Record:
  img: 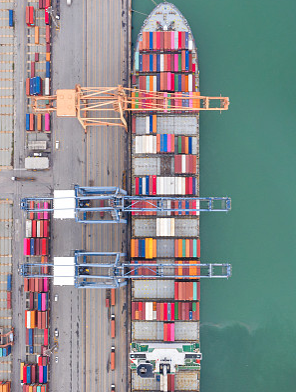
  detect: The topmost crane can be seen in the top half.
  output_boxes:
[19,87,234,136]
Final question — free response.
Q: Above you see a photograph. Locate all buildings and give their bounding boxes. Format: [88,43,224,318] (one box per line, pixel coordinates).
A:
[27,141,46,149]
[25,157,49,169]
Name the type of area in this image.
port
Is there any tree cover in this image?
No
